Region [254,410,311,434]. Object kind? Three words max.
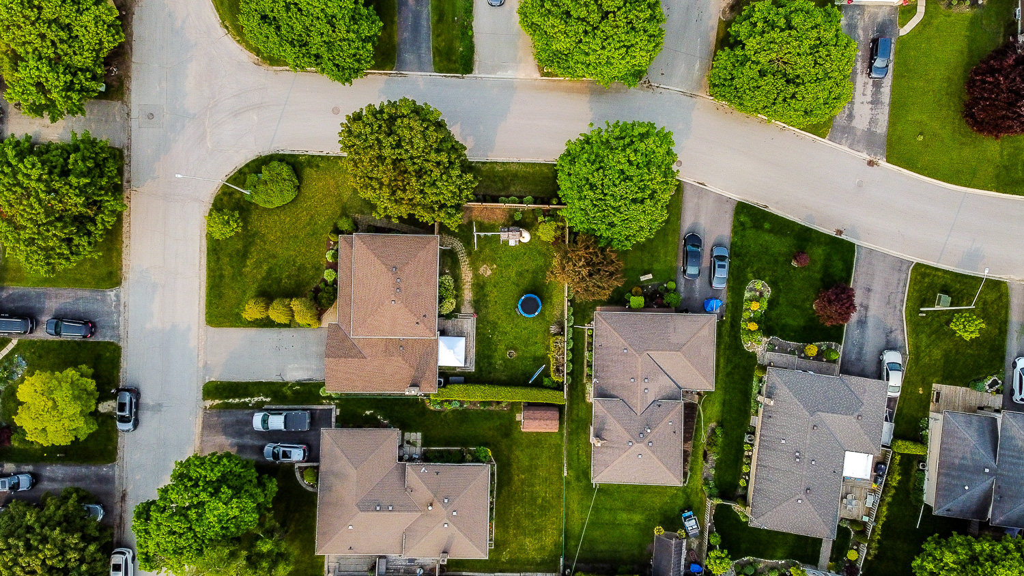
truck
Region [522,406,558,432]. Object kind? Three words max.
shed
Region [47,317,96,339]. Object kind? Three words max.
car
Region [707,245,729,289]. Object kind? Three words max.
car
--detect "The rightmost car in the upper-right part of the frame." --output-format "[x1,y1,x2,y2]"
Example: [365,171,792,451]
[865,34,891,81]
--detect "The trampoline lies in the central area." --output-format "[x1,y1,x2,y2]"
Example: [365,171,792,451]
[516,293,542,318]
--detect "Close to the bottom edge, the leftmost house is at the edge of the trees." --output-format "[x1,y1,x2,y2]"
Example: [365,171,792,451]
[315,427,490,565]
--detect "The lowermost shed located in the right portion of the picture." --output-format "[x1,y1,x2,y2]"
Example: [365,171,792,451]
[651,531,686,576]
